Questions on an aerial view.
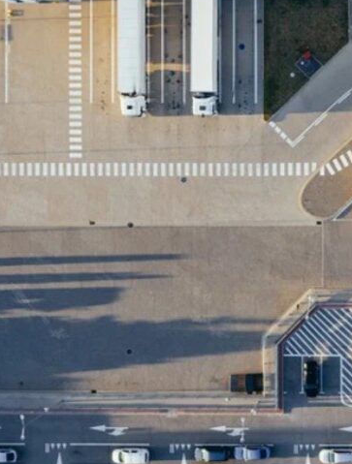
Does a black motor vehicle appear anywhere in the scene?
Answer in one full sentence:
Yes, you can see a black motor vehicle in this photo.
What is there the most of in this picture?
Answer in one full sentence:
Most of the picture is covered by paved ground.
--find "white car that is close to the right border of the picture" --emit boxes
[320,446,352,464]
